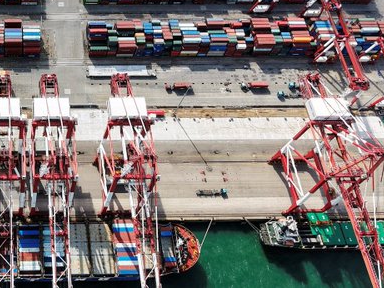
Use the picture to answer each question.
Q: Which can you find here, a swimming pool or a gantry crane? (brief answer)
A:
gantry crane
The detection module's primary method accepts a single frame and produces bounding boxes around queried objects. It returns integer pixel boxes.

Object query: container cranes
[293,0,354,62]
[244,0,279,18]
[0,76,27,288]
[267,76,384,288]
[92,76,169,288]
[28,76,81,288]
[304,34,372,108]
